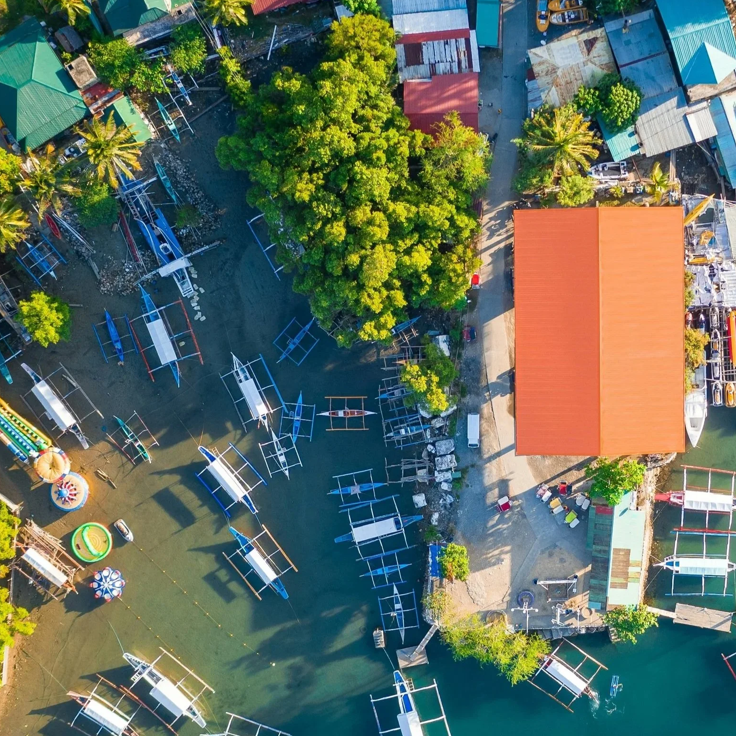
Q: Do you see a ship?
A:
Yes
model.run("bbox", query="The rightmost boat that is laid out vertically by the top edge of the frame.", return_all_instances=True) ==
[536,0,550,33]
